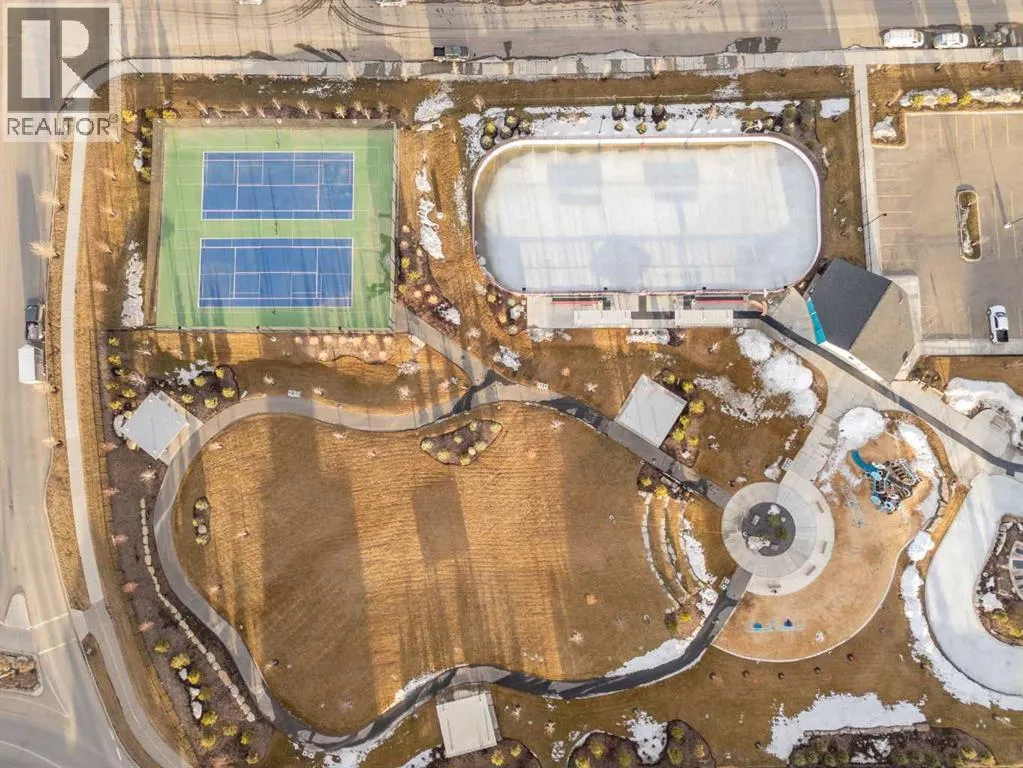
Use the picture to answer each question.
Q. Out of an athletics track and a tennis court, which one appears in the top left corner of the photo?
tennis court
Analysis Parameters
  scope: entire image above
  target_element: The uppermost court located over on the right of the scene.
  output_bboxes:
[474,134,821,294]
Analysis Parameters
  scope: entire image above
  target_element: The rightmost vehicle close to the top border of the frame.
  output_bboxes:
[974,28,1013,46]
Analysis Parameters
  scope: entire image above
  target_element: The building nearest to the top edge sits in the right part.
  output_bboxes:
[805,258,916,382]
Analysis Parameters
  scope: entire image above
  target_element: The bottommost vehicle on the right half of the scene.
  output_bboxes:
[989,306,1010,344]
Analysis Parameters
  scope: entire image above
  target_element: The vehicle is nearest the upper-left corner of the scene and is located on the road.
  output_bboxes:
[22,302,42,341]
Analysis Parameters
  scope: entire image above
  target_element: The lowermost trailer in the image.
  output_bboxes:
[13,341,41,384]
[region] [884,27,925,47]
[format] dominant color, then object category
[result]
white vehicle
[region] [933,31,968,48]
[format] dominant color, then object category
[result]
white car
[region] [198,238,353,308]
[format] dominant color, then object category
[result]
blue tennis court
